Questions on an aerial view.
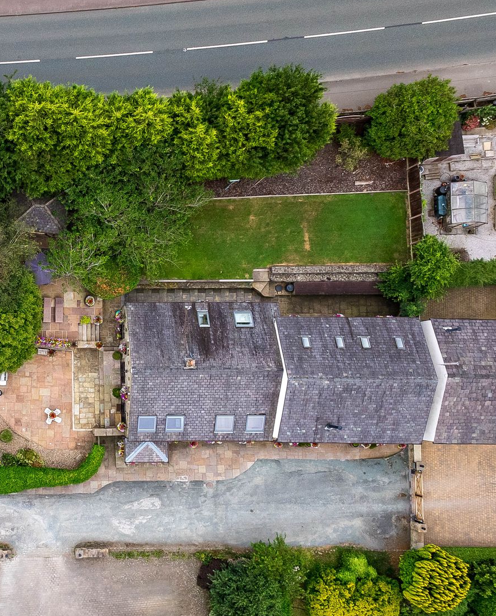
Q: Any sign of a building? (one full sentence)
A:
Yes, I can see a building in this picture.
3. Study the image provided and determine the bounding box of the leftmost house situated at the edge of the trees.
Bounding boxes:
[115,300,286,465]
